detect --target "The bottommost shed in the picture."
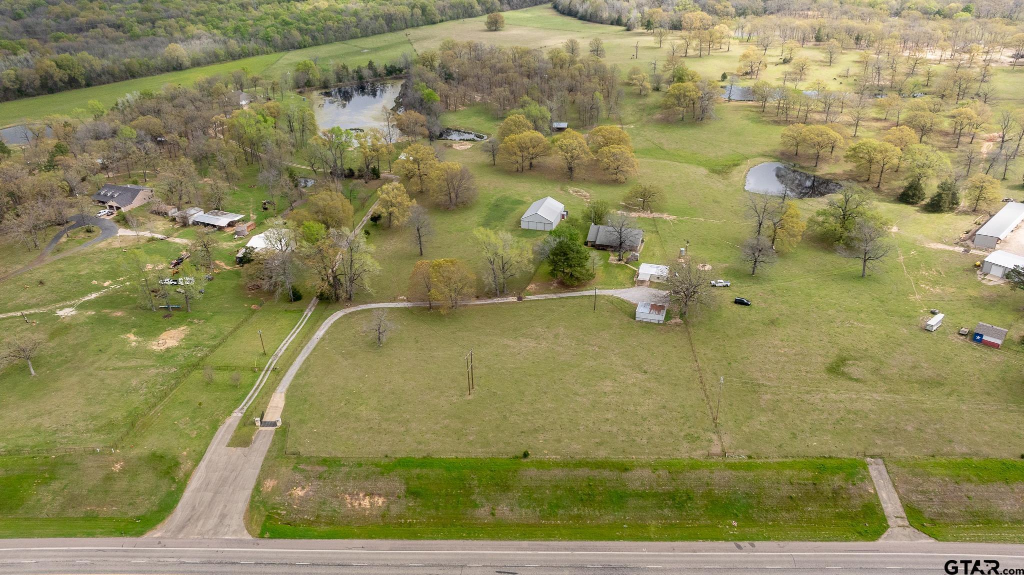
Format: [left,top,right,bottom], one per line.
[973,321,1007,348]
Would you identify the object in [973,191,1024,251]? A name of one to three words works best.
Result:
barn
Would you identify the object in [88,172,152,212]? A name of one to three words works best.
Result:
house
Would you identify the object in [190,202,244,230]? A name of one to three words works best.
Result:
building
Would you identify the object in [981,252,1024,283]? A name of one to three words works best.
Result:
building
